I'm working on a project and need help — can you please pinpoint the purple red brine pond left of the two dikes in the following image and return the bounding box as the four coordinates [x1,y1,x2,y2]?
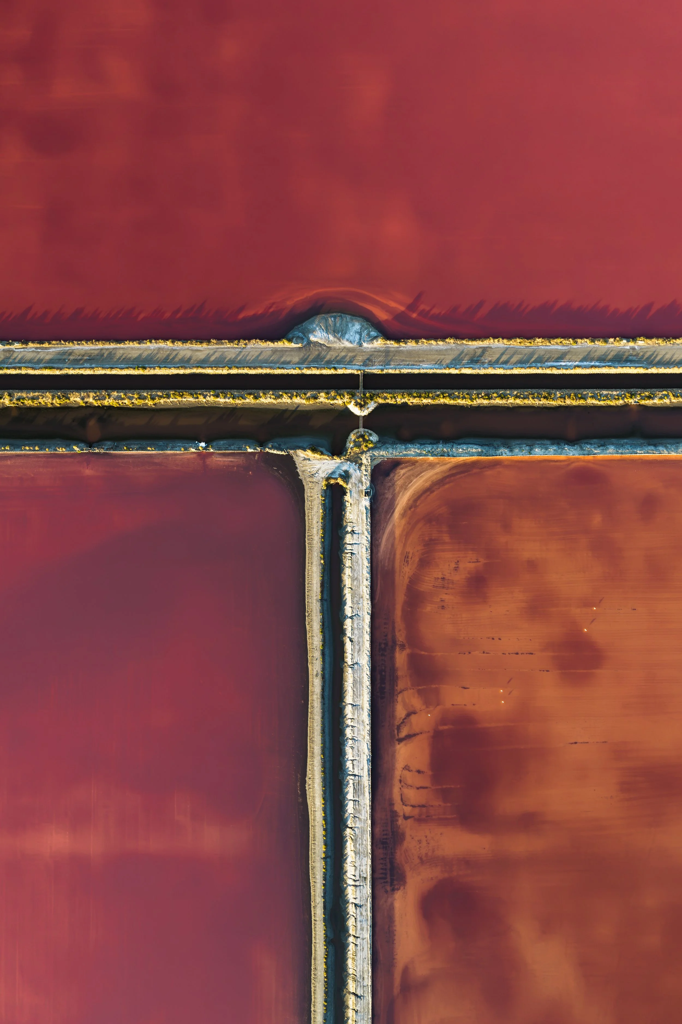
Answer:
[0,451,313,1024]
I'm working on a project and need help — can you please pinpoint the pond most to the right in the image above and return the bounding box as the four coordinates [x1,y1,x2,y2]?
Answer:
[370,454,682,1024]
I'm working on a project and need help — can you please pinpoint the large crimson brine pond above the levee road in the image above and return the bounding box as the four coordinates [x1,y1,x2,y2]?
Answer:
[0,0,682,341]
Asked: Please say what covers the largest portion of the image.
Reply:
water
